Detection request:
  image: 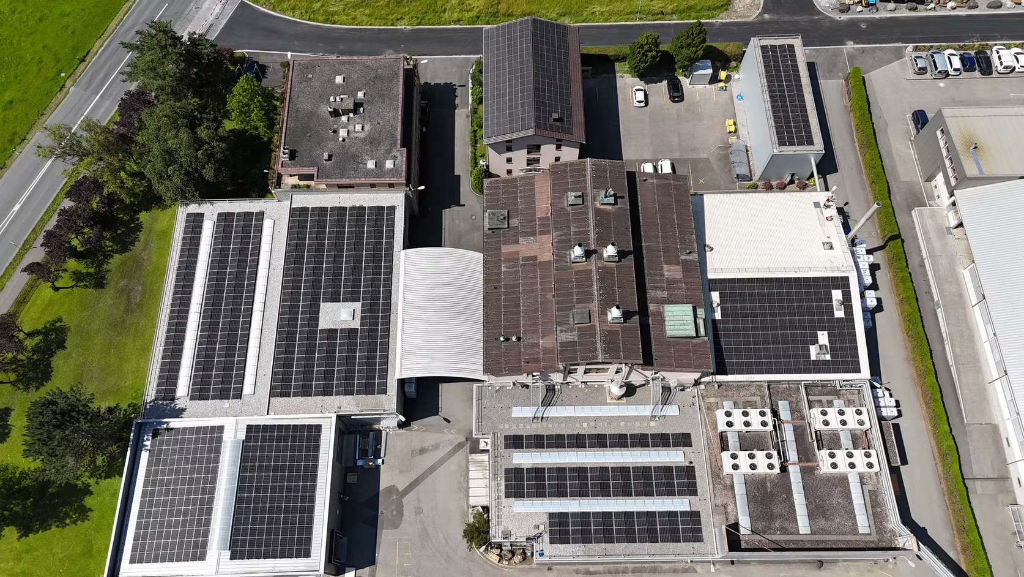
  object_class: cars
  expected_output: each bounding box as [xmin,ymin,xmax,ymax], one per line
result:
[926,50,950,78]
[908,53,928,76]
[990,47,1016,74]
[971,51,993,77]
[245,59,259,82]
[640,161,655,173]
[941,50,962,77]
[908,109,929,135]
[957,52,977,75]
[1010,50,1024,74]
[657,157,673,173]
[632,85,646,109]
[666,76,683,104]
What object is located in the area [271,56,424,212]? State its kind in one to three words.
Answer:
building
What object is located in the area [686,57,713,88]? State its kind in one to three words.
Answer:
shed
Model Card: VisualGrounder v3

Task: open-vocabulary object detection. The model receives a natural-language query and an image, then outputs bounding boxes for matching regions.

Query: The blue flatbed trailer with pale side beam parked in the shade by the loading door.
[355,431,386,468]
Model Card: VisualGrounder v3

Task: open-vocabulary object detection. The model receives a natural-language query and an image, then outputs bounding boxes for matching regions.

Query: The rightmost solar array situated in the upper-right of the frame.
[761,43,814,146]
